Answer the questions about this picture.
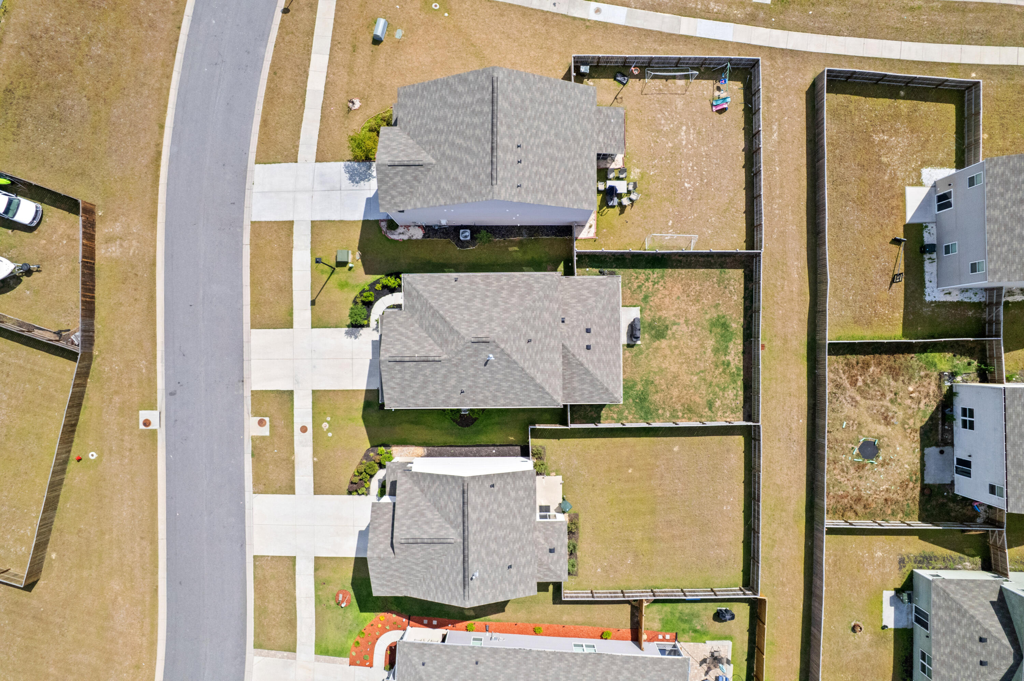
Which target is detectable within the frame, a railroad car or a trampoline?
trampoline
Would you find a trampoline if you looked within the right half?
Yes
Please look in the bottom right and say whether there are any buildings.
Yes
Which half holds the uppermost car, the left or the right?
left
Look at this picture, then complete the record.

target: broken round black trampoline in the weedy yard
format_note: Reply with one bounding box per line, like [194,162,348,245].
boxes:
[858,437,884,463]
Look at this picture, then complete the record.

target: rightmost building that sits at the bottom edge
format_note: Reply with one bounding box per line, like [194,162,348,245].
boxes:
[913,570,1024,681]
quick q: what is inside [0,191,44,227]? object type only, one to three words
car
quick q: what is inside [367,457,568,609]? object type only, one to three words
house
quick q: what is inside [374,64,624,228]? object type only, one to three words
house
